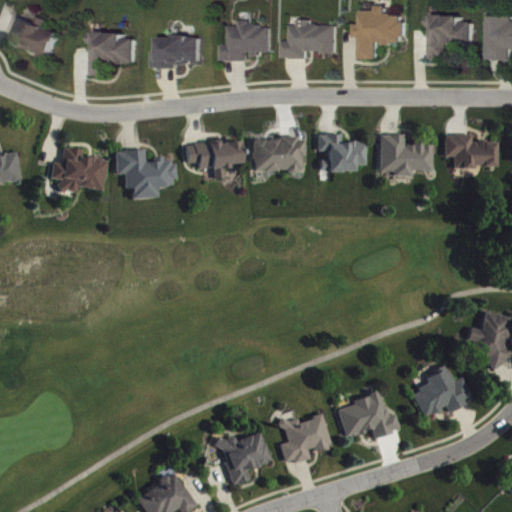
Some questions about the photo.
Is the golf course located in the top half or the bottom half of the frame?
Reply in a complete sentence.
The golf course sits in the bottom half of the picture.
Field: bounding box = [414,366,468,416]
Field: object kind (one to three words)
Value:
house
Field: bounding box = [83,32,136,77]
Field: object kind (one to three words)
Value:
house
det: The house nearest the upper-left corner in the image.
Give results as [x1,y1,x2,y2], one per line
[8,16,58,54]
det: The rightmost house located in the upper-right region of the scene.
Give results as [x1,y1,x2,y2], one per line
[484,17,512,62]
